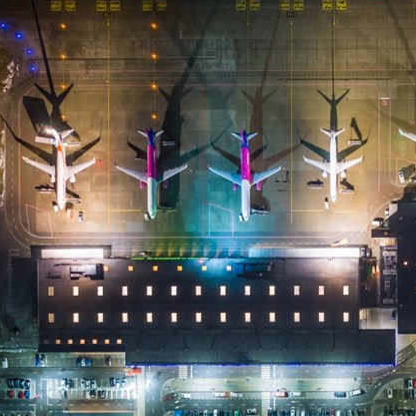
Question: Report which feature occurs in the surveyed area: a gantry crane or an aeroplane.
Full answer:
There is an aeroplane in the scene.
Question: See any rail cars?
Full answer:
No, the frame has no rail car in it.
